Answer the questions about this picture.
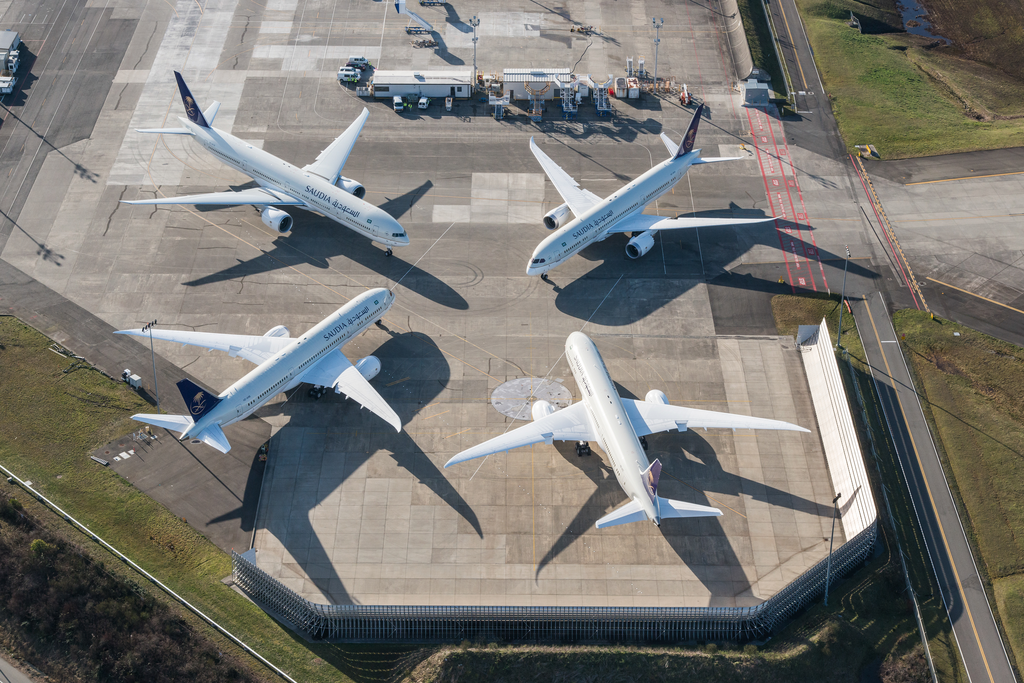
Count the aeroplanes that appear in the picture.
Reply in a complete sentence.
The count of aeroplanes comes to 4.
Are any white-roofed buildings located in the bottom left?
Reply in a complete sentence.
No, I see no white-roofed building in the bottom left.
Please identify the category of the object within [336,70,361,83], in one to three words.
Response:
vehicle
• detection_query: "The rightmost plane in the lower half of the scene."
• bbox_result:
[445,330,810,529]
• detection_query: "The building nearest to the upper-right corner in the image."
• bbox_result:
[740,76,770,102]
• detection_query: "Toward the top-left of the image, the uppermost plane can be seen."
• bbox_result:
[119,71,410,254]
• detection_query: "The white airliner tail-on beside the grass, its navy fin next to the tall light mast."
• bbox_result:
[114,287,401,454]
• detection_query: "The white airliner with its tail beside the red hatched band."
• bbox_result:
[525,103,781,280]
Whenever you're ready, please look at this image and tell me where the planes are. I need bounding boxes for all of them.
[119,71,410,254]
[445,330,810,529]
[114,287,401,454]
[525,103,781,280]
